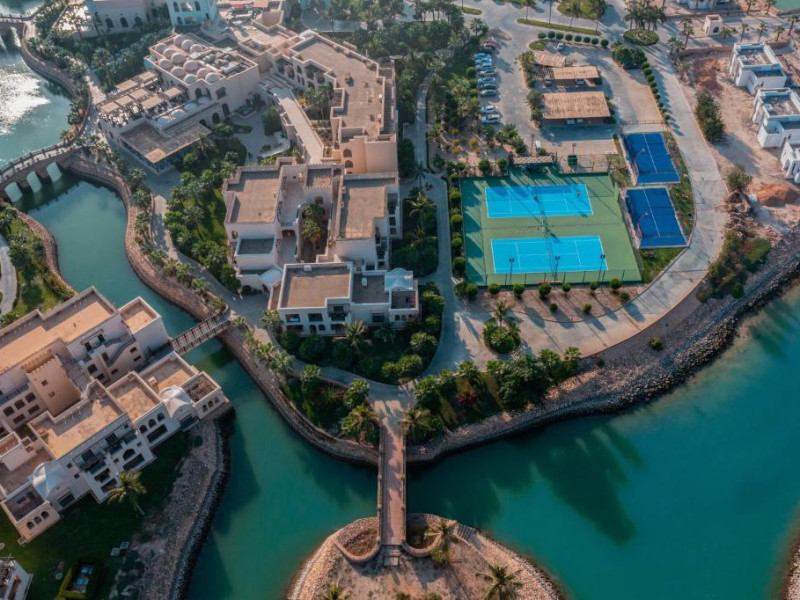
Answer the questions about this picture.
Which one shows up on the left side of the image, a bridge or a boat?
bridge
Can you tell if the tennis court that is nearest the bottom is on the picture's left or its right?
right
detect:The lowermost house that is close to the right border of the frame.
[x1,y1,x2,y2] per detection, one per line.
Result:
[771,134,800,189]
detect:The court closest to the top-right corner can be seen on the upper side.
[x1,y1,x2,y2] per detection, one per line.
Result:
[622,123,683,184]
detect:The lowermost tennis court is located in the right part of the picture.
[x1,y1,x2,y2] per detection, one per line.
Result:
[491,231,608,274]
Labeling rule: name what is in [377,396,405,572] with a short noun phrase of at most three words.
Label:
bridge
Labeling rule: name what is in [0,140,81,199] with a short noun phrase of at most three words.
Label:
bridge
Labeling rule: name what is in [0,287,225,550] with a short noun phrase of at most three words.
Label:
building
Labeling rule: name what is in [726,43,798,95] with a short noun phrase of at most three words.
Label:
house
